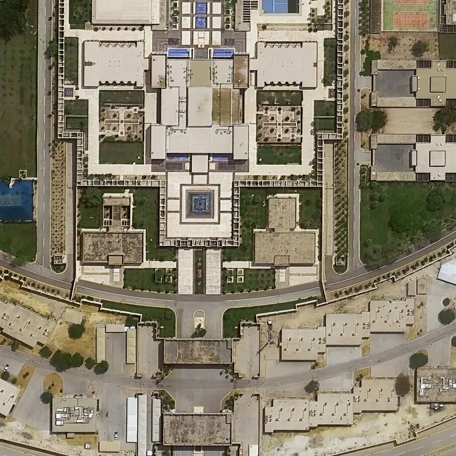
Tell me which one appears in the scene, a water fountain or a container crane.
water fountain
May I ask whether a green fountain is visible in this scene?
No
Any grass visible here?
Yes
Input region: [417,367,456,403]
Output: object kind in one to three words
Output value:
building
